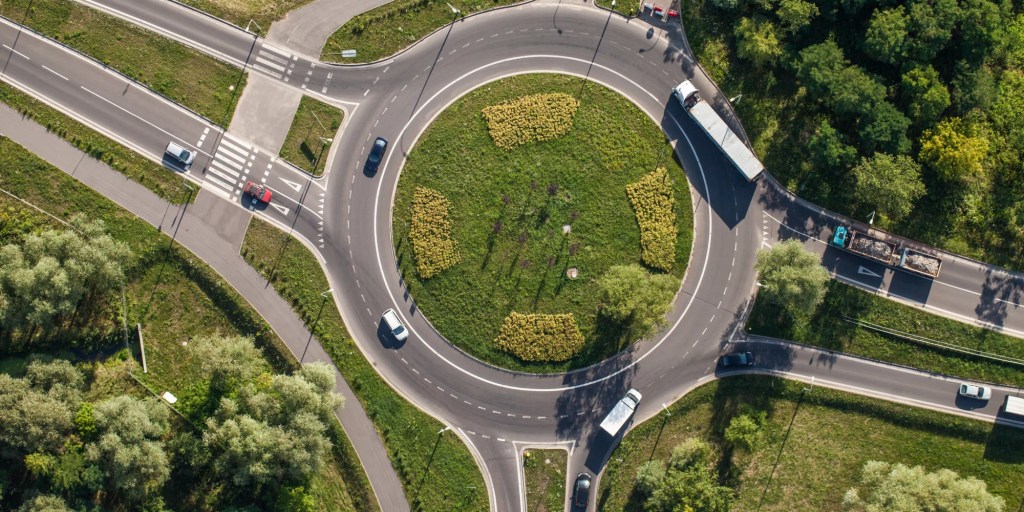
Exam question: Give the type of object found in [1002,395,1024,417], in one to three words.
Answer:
truck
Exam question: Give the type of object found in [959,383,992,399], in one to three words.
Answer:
car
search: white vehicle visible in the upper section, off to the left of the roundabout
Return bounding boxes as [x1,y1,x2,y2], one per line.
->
[166,141,194,164]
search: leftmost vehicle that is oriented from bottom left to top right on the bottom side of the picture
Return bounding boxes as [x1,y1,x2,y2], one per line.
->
[600,386,645,436]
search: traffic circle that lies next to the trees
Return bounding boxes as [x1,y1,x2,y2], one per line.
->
[324,5,763,442]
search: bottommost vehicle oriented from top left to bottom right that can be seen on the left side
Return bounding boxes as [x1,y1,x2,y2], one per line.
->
[383,309,408,340]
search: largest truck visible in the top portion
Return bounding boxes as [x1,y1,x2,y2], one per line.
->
[673,81,763,182]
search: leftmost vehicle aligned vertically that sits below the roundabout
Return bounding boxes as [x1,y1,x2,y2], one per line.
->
[576,472,591,507]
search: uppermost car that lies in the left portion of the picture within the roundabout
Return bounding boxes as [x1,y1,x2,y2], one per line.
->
[368,138,388,172]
